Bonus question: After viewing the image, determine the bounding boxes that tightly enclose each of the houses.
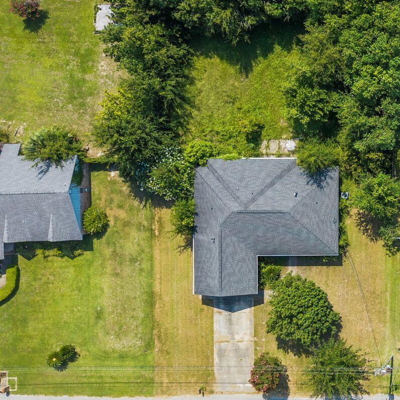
[0,143,92,260]
[193,158,340,297]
